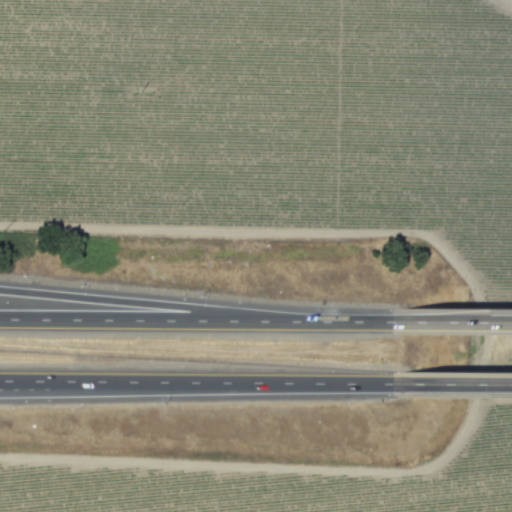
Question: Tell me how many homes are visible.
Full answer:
There are no homes in this view.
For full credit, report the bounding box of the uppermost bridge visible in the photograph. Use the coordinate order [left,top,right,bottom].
[394,309,512,336]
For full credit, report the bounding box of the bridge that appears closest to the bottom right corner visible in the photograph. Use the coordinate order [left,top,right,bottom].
[394,372,512,399]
